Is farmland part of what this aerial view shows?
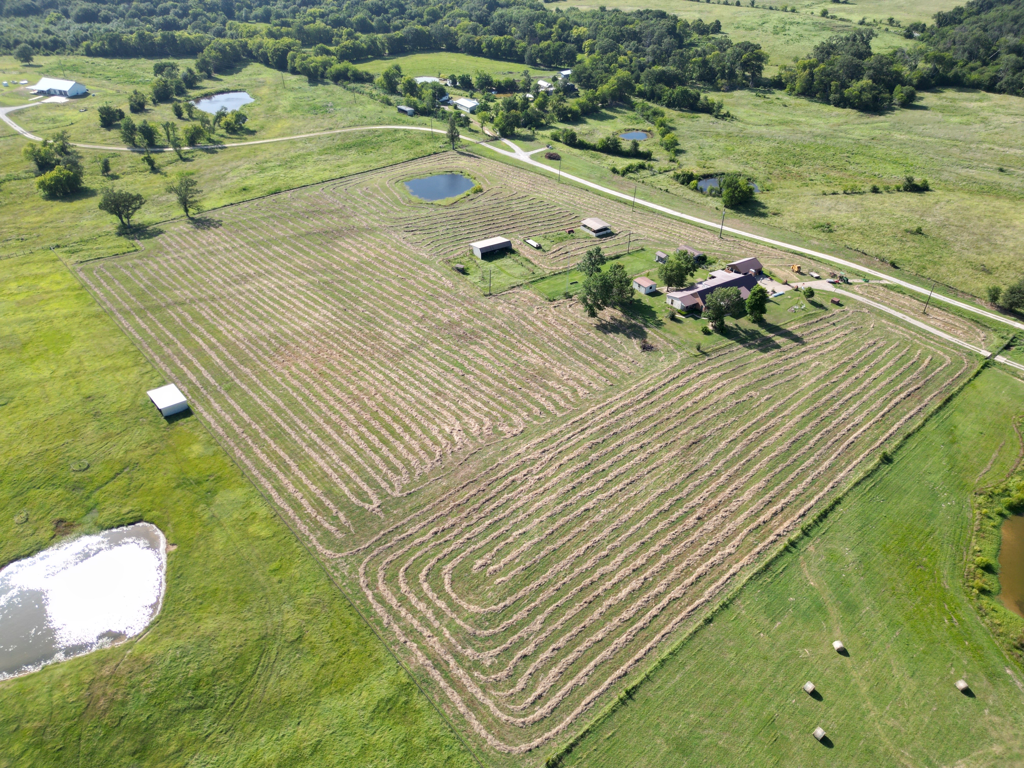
Yes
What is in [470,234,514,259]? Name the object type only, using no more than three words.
barn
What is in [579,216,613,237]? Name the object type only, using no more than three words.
barn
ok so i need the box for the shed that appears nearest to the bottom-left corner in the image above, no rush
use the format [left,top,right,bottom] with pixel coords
[144,380,189,418]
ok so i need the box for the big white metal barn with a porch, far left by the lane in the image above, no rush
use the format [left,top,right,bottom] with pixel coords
[21,81,89,97]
